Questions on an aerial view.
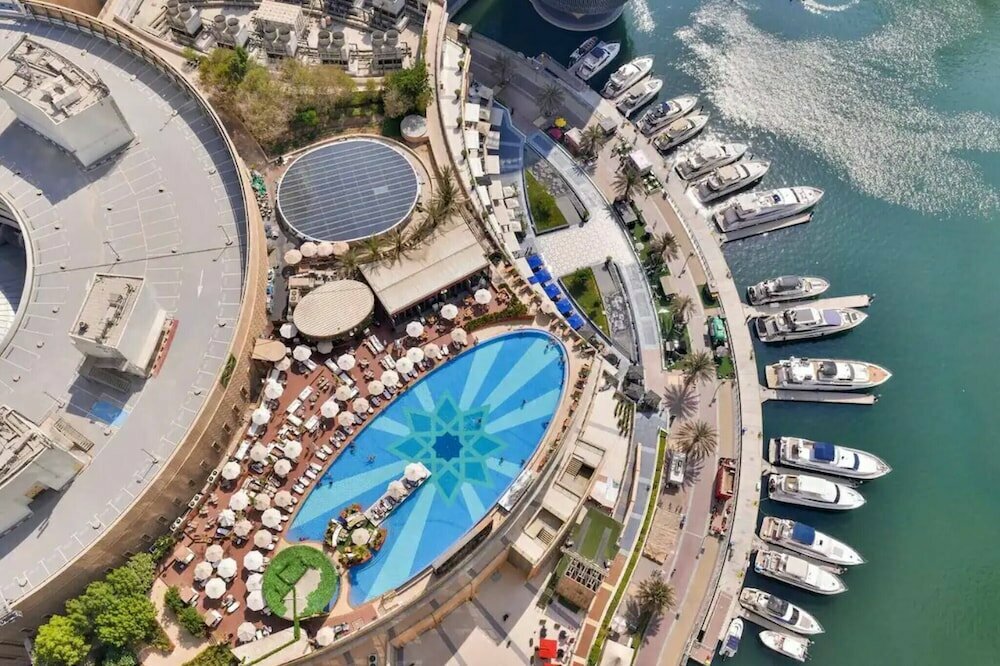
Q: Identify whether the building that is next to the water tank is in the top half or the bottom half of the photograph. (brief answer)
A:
top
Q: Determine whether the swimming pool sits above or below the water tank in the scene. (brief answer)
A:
below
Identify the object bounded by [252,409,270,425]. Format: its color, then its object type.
white umbrella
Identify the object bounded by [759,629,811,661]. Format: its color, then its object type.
white boat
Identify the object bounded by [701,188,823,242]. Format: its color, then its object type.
white boat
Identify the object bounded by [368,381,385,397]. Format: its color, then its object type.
white umbrella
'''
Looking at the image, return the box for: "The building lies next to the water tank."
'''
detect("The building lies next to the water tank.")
[276,139,420,251]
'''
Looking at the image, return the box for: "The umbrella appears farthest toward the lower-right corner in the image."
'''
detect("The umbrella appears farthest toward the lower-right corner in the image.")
[609,613,631,636]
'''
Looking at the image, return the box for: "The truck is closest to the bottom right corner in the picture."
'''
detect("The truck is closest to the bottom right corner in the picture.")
[713,458,736,503]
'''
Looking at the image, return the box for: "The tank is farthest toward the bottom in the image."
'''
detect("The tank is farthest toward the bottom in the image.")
[402,120,427,146]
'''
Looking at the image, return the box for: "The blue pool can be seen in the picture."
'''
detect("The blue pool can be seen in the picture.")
[279,325,573,615]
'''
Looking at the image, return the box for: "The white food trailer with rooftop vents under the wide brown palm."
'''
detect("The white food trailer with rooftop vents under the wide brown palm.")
[668,453,688,496]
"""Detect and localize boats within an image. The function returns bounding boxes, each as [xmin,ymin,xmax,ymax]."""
[616,83,662,122]
[759,629,811,661]
[568,37,596,65]
[748,535,846,598]
[758,464,864,516]
[572,46,619,84]
[649,116,708,156]
[761,427,891,483]
[719,619,743,657]
[680,161,771,207]
[755,511,864,568]
[635,100,696,142]
[664,145,746,186]
[733,571,822,638]
[735,277,827,312]
[754,355,890,395]
[742,307,866,349]
[701,188,823,242]
[599,60,652,107]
